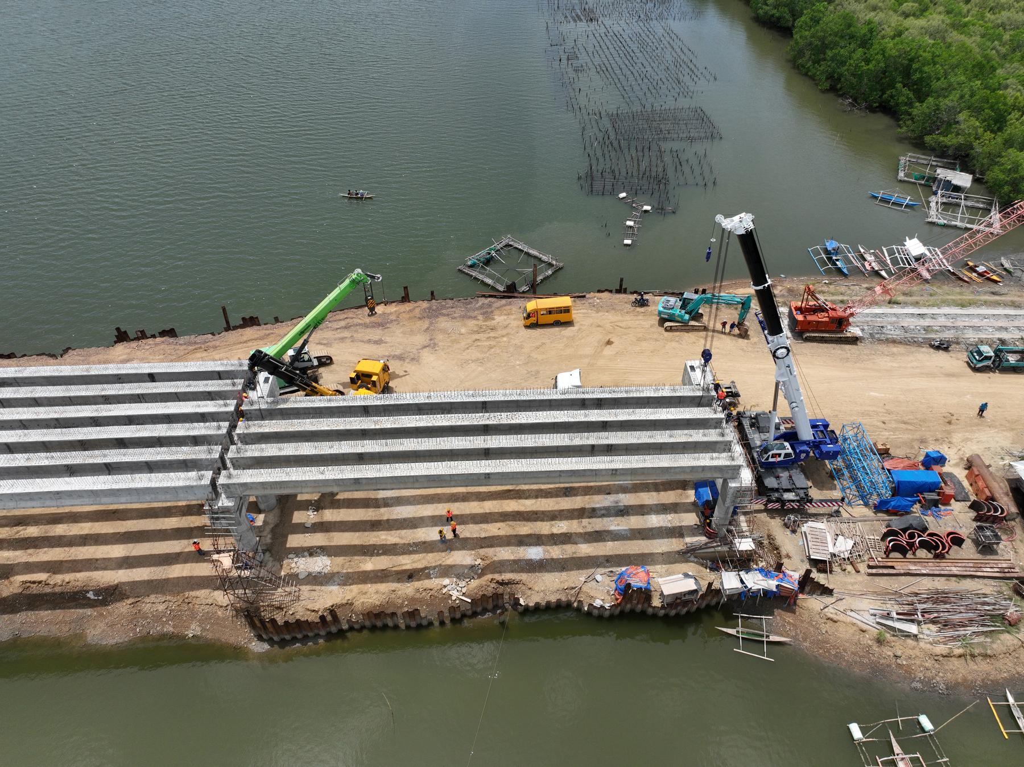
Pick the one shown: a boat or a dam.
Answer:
boat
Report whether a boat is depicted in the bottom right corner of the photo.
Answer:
Yes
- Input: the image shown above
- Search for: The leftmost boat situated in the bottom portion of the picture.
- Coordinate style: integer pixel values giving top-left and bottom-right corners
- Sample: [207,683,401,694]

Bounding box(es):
[716,610,795,659]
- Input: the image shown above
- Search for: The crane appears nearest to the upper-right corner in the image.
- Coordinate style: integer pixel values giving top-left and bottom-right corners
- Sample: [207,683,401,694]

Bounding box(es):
[783,192,1024,345]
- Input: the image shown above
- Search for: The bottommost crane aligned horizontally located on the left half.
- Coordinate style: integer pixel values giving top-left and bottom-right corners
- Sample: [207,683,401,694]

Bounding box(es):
[243,347,392,419]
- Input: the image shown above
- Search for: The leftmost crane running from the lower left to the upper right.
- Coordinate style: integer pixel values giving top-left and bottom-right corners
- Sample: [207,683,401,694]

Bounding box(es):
[268,266,386,397]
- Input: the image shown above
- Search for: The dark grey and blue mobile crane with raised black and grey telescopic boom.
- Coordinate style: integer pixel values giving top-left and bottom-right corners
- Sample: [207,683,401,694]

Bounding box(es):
[698,209,854,530]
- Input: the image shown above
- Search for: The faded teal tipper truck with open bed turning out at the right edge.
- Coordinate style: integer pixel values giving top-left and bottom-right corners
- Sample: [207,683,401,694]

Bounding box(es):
[966,337,1024,370]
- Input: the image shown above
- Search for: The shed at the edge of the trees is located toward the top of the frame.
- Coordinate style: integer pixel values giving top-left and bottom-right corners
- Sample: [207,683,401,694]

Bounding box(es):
[931,170,984,199]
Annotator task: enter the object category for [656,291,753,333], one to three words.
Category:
work vehicle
